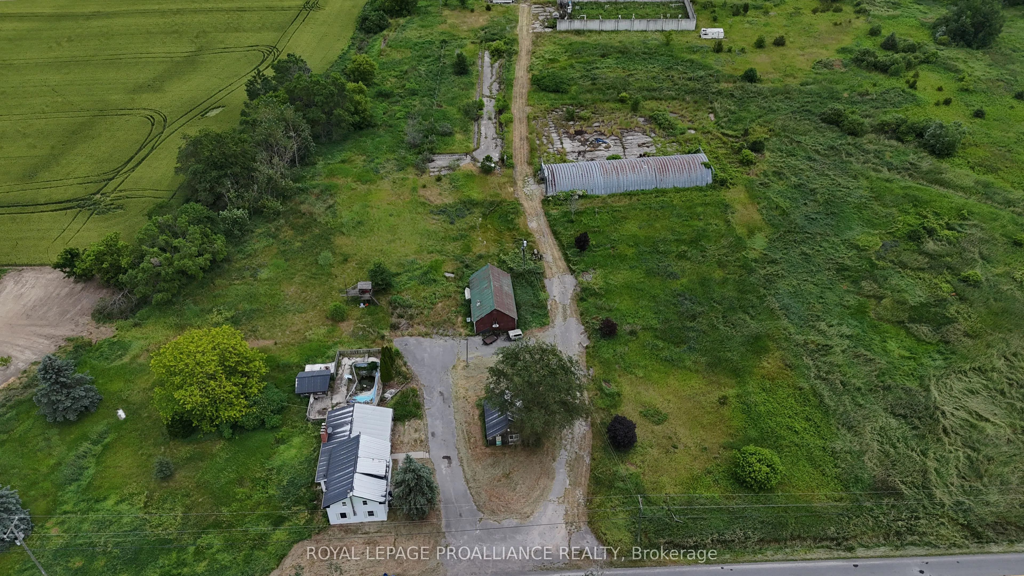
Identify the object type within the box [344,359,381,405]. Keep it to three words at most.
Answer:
swimming pool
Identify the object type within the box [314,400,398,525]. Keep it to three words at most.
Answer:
house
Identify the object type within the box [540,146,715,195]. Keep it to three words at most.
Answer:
shed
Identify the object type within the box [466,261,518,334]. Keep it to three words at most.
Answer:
barn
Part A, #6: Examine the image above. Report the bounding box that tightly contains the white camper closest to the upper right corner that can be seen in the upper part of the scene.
[699,26,726,38]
